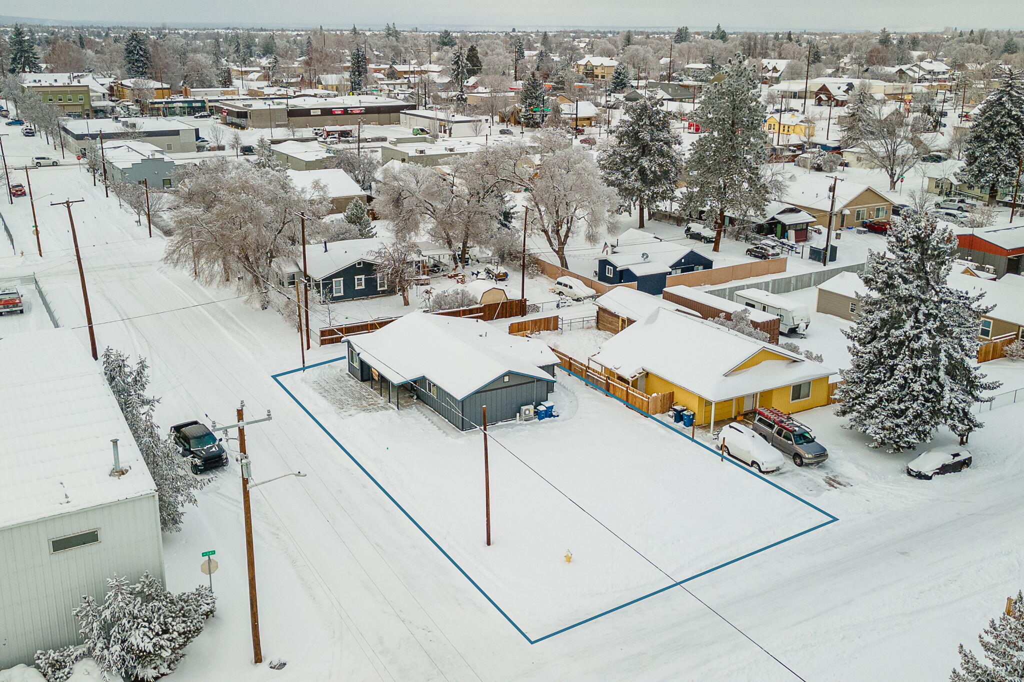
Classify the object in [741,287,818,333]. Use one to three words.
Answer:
vehicle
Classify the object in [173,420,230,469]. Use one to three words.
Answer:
truck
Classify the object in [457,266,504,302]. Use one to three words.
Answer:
shed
